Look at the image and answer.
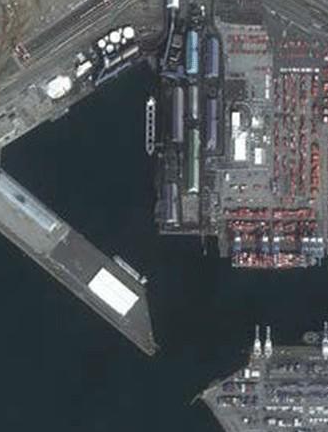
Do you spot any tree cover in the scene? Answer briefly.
No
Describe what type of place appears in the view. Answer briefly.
port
